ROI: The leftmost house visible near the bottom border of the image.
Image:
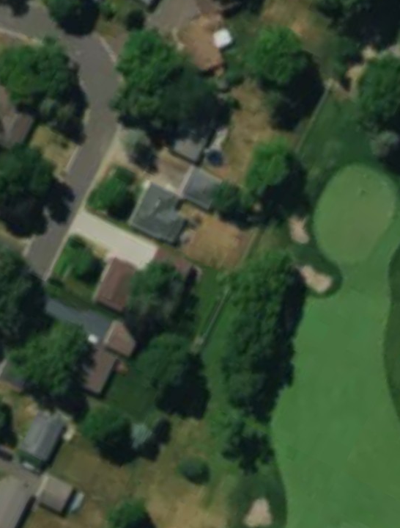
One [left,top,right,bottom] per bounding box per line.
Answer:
[0,474,34,528]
